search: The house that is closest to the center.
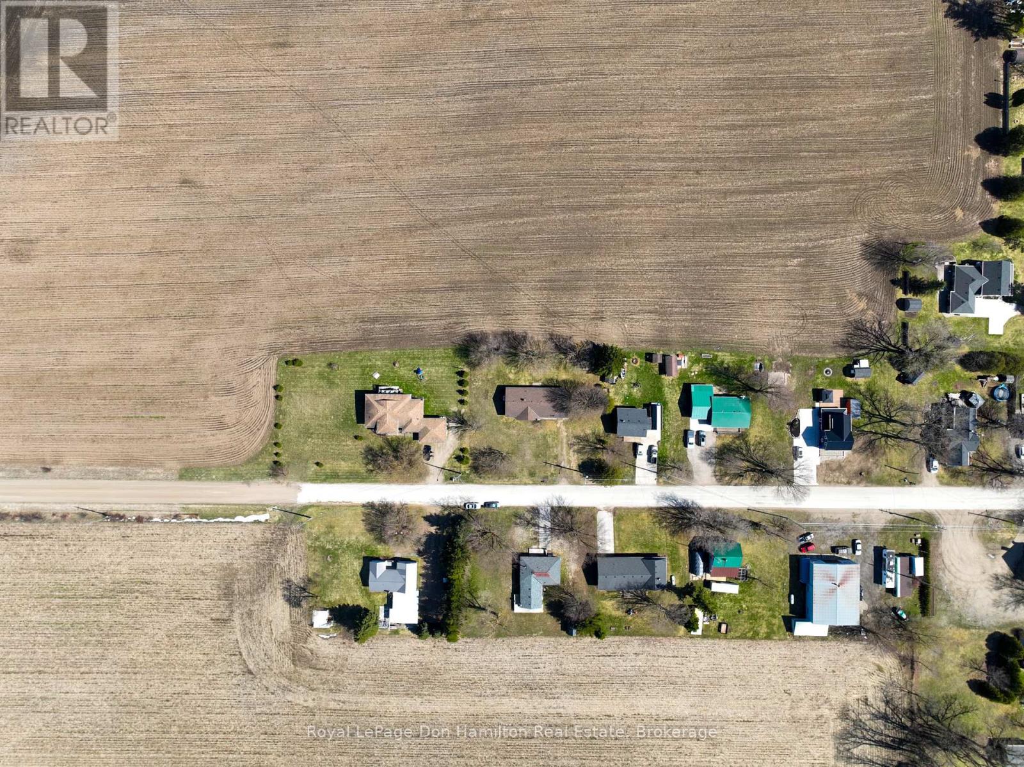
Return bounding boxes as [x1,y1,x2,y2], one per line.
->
[505,386,569,420]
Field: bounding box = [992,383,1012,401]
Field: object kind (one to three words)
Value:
swimming pool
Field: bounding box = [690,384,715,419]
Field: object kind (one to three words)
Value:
building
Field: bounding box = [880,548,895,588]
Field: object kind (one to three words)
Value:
camper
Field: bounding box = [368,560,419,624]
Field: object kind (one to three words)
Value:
house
